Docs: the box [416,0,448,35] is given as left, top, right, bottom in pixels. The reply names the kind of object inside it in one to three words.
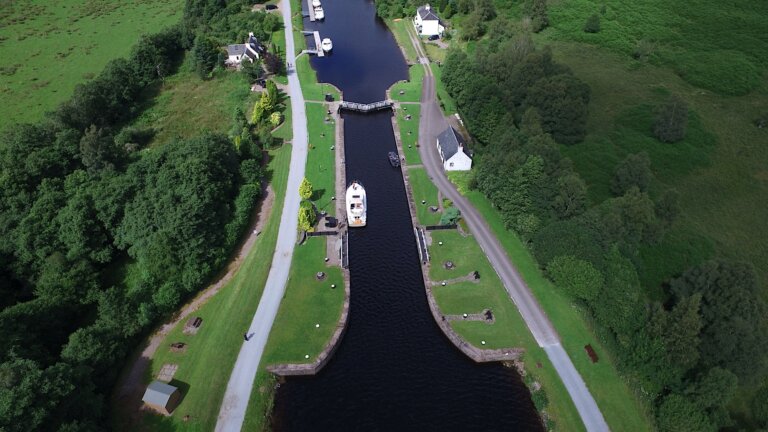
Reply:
house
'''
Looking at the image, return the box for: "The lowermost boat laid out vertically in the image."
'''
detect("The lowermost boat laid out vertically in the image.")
[347,178,369,231]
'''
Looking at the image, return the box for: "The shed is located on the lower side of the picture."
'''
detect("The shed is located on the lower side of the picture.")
[139,378,184,415]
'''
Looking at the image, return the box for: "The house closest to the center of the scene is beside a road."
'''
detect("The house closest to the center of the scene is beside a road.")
[438,127,480,176]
